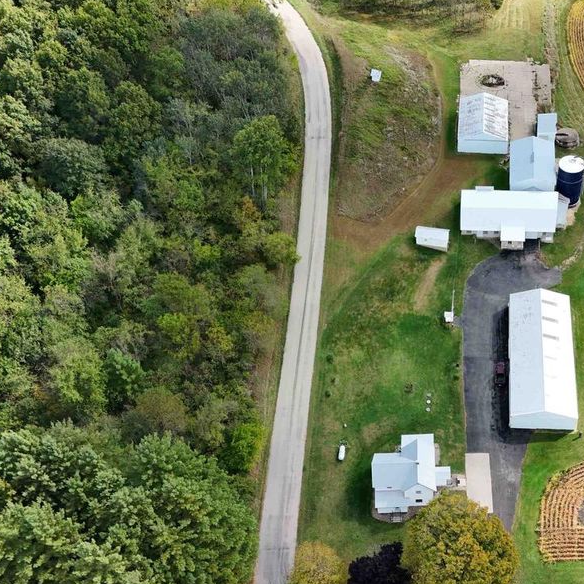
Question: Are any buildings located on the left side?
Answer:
No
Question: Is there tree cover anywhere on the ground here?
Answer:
Yes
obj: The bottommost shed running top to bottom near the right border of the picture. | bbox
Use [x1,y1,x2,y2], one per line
[509,287,578,430]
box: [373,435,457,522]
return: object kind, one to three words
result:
house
